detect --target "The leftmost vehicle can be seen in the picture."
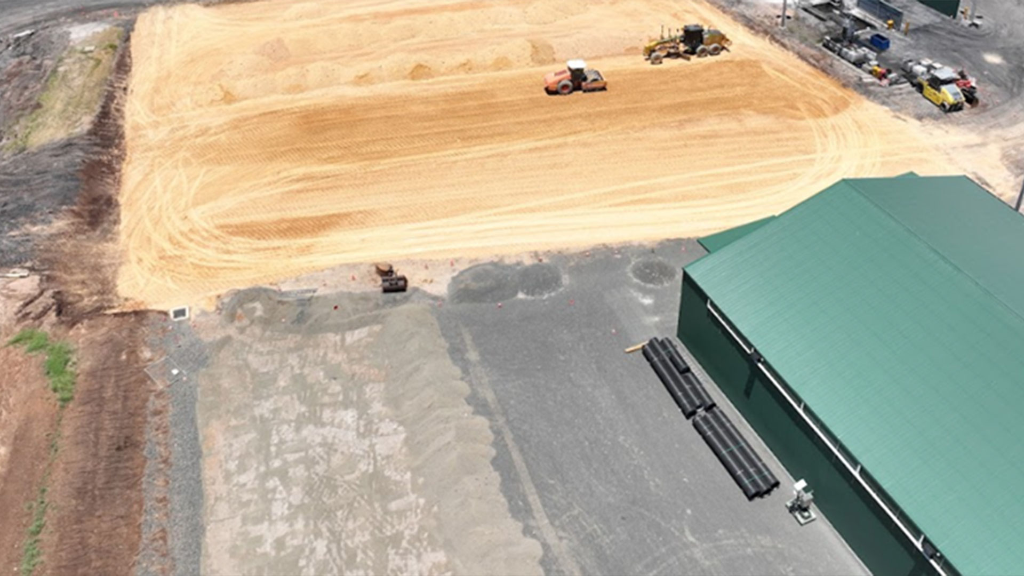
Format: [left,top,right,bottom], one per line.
[546,53,610,94]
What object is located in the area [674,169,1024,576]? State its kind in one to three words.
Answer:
shed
